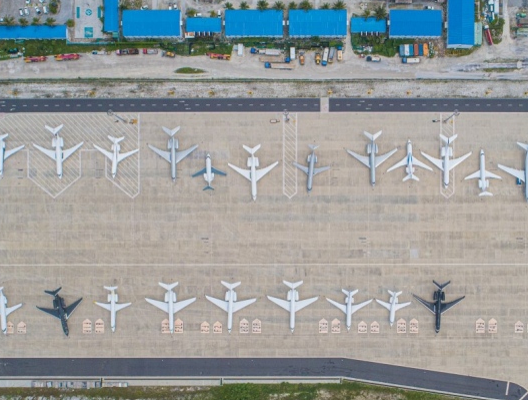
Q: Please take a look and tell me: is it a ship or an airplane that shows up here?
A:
airplane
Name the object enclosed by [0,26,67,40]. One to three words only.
shed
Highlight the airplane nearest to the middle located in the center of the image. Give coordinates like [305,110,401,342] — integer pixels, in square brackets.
[227,148,278,200]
